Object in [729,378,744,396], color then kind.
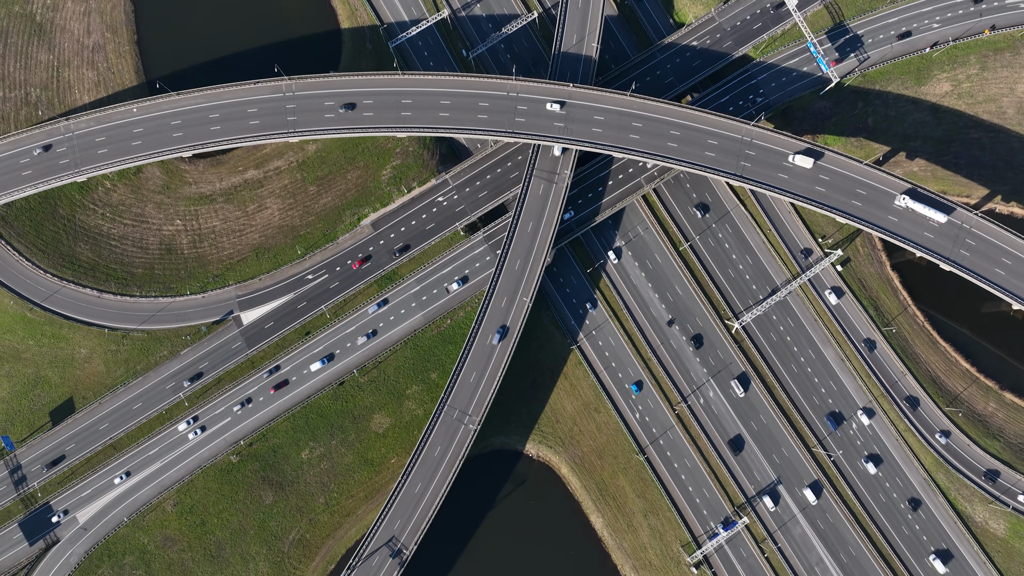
white vehicle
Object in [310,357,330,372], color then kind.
white vehicle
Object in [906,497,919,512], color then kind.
black vehicle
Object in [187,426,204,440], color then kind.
white car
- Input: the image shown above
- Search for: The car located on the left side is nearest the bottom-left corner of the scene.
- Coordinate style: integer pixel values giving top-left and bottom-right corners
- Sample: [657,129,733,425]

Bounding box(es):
[49,510,67,524]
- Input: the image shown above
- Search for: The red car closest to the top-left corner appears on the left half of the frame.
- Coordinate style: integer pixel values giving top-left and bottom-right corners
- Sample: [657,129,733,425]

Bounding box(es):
[353,257,368,269]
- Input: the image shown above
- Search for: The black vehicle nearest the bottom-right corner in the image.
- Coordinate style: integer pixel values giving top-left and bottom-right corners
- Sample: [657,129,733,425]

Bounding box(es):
[981,471,997,485]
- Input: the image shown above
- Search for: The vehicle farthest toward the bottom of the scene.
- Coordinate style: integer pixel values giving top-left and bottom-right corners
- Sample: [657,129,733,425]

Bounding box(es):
[928,555,946,574]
